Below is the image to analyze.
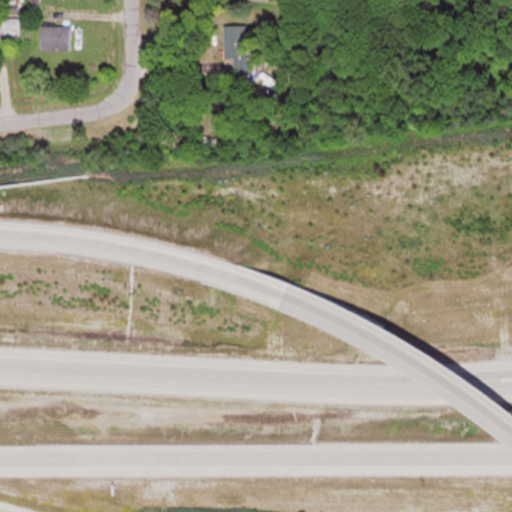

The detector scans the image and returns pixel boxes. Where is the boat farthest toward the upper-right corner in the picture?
[252,72,278,86]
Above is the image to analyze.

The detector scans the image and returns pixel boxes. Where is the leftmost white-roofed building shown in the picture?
[1,19,20,38]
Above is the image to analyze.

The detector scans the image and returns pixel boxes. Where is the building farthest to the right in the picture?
[224,26,248,71]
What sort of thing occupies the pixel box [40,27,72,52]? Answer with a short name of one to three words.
house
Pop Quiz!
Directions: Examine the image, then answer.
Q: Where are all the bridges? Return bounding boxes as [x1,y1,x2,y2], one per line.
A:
[232,266,512,456]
